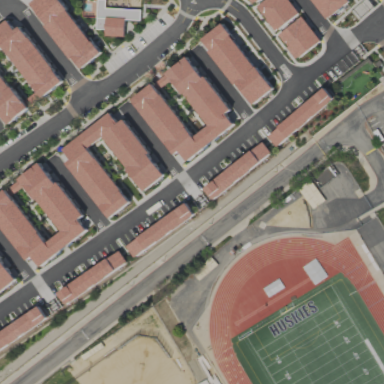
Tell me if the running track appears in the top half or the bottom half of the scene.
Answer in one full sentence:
The running track sits in the bottom half of the picture.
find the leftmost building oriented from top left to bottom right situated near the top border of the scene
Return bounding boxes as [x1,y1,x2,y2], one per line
[30,0,100,68]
